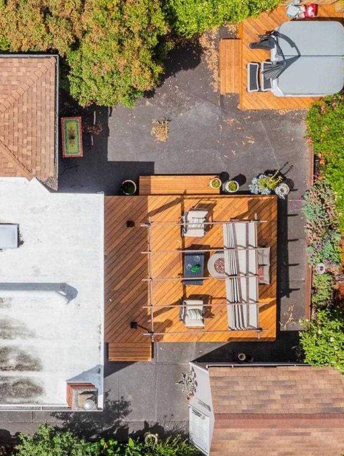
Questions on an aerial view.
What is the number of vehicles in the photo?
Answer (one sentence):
I count no vehicles.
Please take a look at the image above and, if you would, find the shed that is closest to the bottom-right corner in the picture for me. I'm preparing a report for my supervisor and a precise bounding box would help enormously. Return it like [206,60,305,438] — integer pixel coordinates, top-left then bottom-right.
[187,362,344,456]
